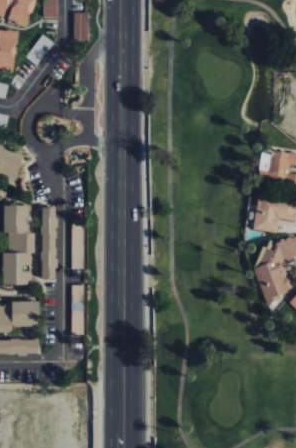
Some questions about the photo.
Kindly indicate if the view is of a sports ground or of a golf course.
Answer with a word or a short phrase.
golf course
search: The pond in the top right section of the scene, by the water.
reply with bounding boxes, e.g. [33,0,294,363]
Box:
[242,10,272,126]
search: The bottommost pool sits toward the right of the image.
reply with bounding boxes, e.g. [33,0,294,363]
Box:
[244,227,266,242]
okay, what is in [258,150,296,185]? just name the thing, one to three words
house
